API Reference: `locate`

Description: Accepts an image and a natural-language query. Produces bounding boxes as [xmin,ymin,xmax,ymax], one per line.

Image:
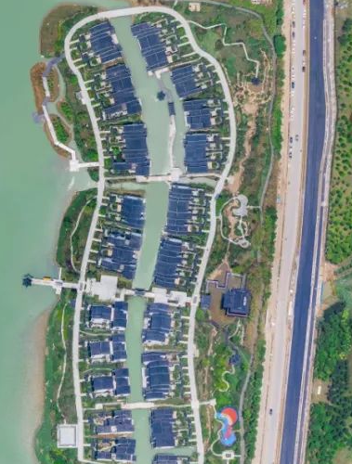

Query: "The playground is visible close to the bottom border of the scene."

[217,408,238,446]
